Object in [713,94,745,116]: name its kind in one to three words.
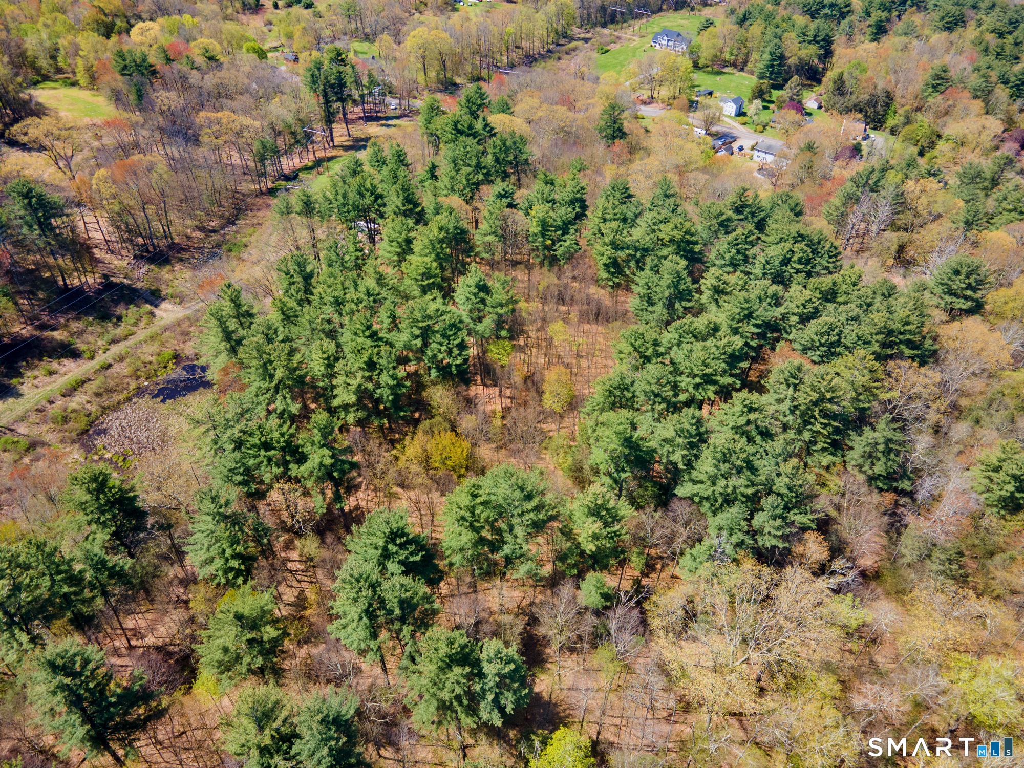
house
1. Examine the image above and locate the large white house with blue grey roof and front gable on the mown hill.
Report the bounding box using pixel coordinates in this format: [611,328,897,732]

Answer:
[648,28,696,51]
